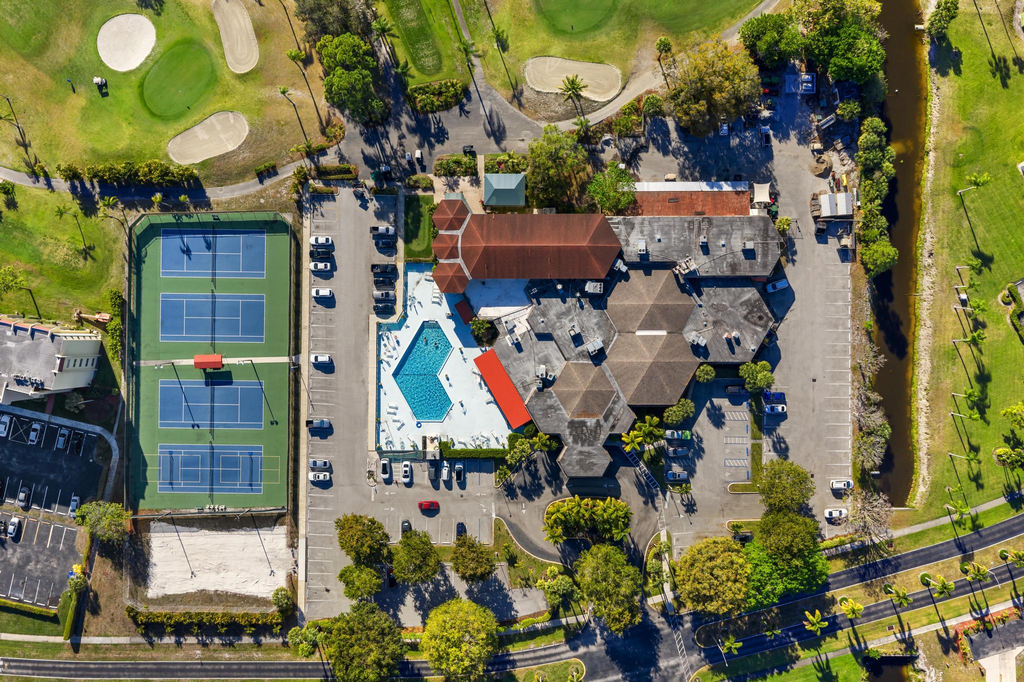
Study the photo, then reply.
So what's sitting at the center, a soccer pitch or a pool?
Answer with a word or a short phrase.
pool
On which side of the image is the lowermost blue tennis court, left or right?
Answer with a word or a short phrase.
left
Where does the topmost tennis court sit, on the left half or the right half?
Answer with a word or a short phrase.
left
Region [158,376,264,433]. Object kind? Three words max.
tennis court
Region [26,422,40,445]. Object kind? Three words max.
car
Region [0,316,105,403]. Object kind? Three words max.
building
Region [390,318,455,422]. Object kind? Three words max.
swimming pool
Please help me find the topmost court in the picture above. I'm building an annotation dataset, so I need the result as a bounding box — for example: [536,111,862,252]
[160,224,266,282]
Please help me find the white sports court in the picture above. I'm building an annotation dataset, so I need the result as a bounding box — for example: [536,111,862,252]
[147,521,288,600]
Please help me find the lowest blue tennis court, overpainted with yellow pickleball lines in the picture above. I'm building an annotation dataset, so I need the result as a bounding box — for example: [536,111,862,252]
[140,441,281,498]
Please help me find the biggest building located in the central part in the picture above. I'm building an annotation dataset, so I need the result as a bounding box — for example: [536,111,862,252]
[432,193,783,477]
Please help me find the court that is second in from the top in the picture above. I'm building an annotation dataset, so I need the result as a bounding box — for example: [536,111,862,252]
[160,289,265,346]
